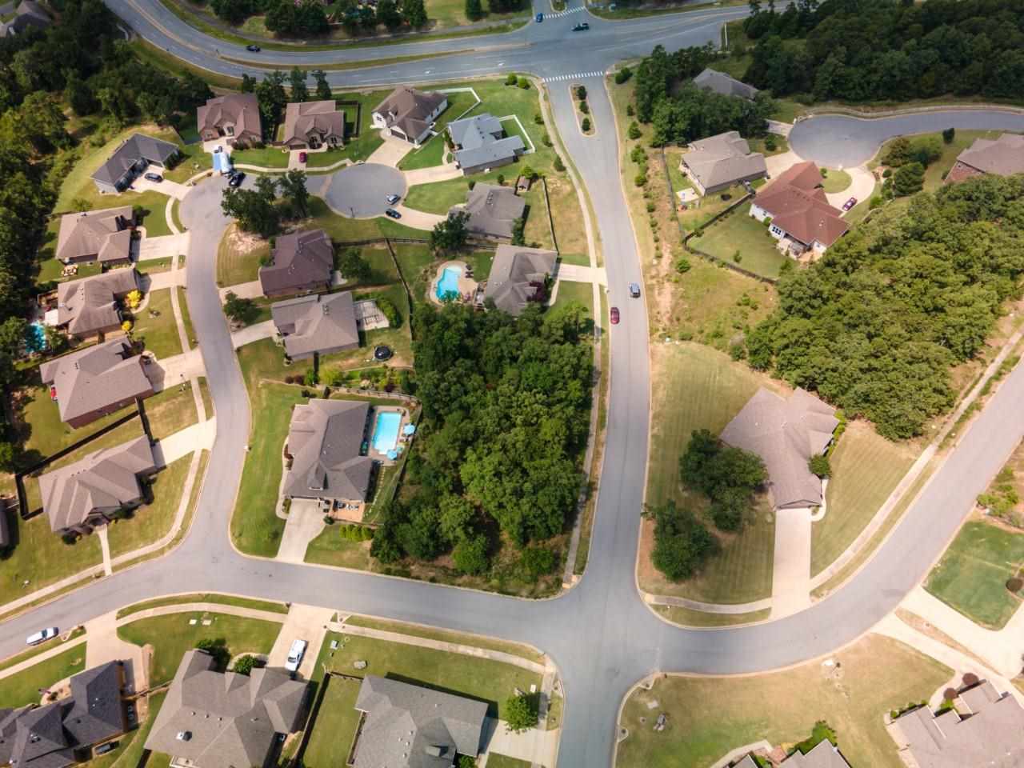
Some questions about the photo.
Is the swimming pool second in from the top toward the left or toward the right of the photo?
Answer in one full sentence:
The swimming pool second in from the top appears in the left half of the scene.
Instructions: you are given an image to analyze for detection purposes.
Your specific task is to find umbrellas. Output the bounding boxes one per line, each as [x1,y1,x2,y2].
[402,423,416,435]
[385,448,399,460]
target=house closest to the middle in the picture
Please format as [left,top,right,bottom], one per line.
[477,243,558,320]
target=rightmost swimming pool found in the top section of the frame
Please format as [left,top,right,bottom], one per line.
[429,260,478,306]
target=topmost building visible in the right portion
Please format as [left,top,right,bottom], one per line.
[694,68,759,110]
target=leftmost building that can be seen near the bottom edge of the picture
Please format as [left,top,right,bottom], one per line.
[0,661,128,768]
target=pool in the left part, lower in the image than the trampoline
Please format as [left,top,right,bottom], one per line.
[369,406,409,465]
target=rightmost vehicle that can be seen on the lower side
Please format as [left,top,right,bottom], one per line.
[287,638,307,671]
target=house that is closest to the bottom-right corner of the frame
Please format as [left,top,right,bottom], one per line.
[892,679,1024,768]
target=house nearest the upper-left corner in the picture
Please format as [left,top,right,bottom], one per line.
[4,0,70,38]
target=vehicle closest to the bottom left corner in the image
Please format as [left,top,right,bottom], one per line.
[25,625,59,647]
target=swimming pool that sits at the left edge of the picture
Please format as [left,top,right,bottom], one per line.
[21,307,50,359]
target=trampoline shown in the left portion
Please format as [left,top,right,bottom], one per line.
[372,344,393,362]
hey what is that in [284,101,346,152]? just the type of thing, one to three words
house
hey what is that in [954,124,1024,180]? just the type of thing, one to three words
house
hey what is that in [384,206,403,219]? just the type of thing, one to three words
vehicle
